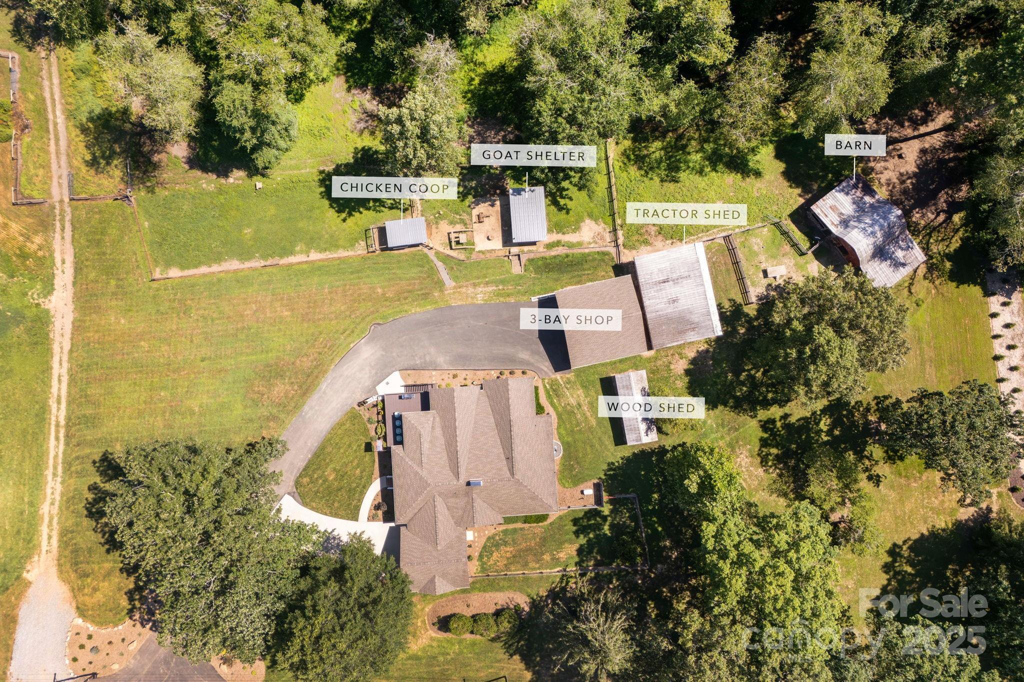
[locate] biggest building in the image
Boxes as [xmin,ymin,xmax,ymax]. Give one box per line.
[391,377,559,595]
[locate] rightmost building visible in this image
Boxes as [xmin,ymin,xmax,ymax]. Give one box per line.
[806,172,926,290]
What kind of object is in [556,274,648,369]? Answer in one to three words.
building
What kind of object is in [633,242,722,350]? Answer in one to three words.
shed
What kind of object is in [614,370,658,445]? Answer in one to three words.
shed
